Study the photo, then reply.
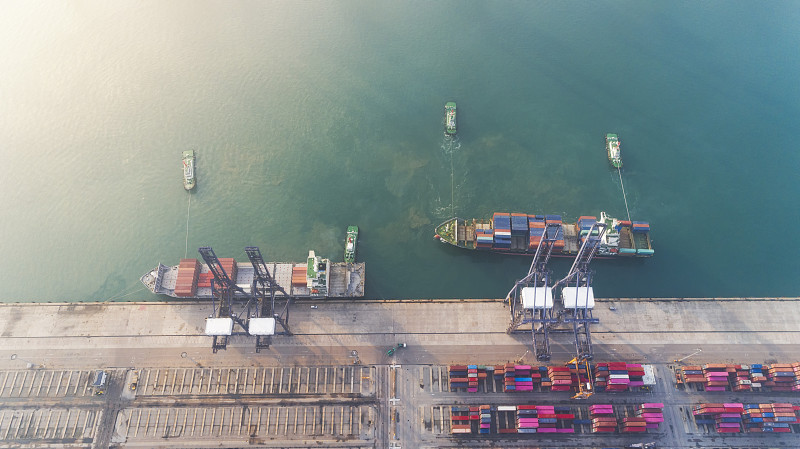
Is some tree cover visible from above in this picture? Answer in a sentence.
No, there's no tree cover in this view.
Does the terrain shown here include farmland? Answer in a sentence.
No, there is no farmland in the image.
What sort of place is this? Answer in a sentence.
This image shows a port.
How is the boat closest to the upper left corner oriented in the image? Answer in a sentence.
The boat closest to the upper left corner is laid out up and down.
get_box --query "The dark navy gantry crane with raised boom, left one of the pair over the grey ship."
[195,251,254,354]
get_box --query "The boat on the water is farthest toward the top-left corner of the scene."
[179,151,199,191]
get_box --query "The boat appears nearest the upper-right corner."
[603,135,623,170]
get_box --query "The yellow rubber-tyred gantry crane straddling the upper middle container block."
[565,355,595,401]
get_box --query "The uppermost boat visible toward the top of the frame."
[441,102,459,137]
